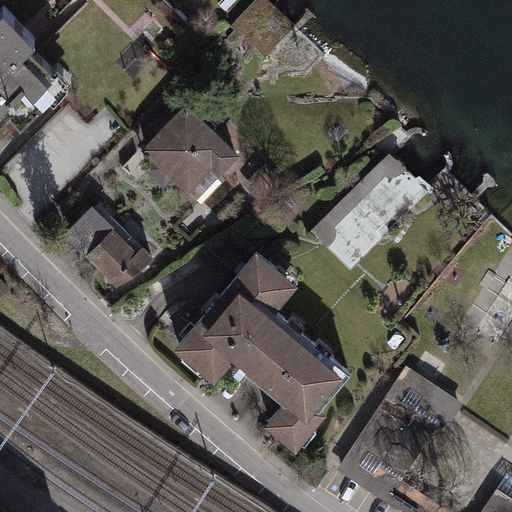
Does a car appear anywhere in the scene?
Yes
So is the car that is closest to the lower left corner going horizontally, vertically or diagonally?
diagonally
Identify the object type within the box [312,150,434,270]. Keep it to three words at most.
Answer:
house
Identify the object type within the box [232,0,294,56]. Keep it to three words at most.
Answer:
house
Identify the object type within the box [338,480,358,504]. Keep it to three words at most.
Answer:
car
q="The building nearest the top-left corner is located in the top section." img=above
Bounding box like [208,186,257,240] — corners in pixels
[0,4,72,126]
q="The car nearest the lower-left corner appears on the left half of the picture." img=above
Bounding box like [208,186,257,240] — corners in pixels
[170,412,190,434]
